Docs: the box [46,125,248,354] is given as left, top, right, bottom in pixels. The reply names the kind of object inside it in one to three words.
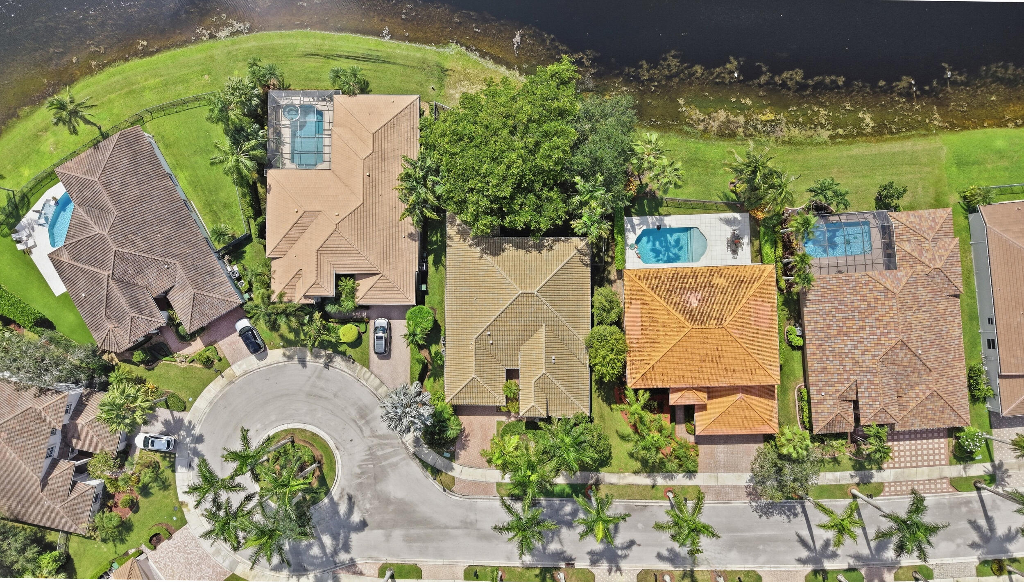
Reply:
house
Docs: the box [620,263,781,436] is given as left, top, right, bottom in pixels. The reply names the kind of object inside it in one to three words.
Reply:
house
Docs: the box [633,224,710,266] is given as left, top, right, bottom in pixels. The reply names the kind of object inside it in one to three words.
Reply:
swimming pool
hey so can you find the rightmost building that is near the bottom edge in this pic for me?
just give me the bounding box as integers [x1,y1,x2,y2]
[110,552,158,582]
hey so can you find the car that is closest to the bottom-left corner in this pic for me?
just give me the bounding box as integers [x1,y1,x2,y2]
[136,432,175,452]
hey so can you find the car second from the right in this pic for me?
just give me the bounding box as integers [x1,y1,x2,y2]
[236,318,266,356]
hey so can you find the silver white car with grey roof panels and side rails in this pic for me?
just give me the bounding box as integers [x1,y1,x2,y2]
[371,317,391,355]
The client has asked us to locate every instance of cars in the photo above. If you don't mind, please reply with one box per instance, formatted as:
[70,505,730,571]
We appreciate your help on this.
[371,317,391,355]
[236,318,266,356]
[136,432,175,452]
